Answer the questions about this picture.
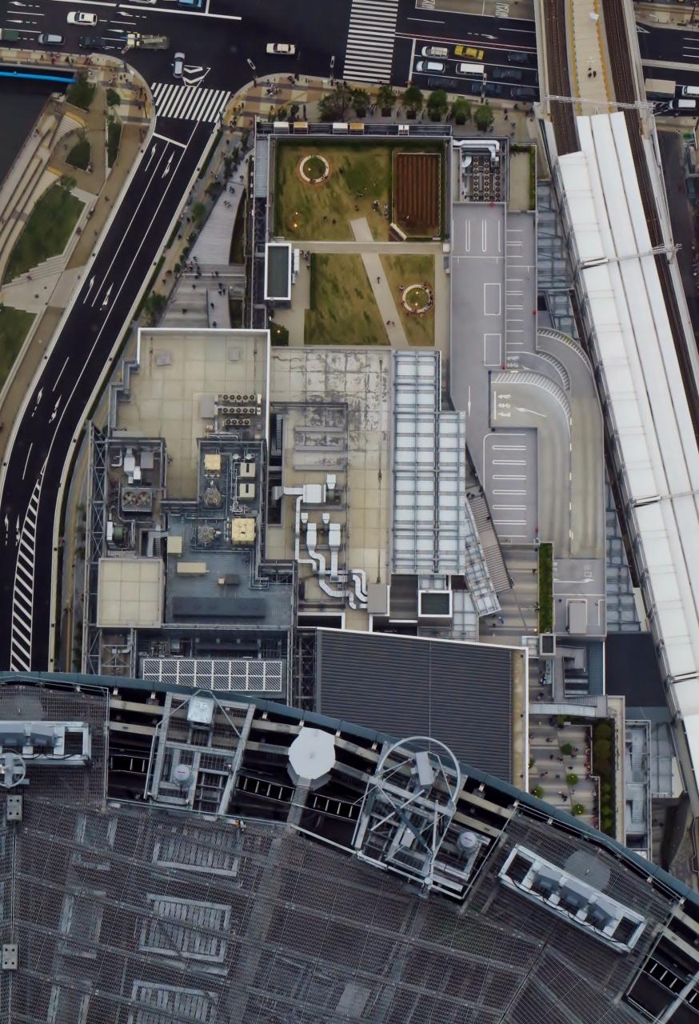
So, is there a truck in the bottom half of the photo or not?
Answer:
No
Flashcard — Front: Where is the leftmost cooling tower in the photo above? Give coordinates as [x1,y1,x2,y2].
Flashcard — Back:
[122,487,154,515]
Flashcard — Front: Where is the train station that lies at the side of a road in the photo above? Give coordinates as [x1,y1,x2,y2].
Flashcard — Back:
[538,0,699,797]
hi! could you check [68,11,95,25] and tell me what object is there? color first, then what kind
white car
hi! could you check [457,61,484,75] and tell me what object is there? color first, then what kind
white vehicle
